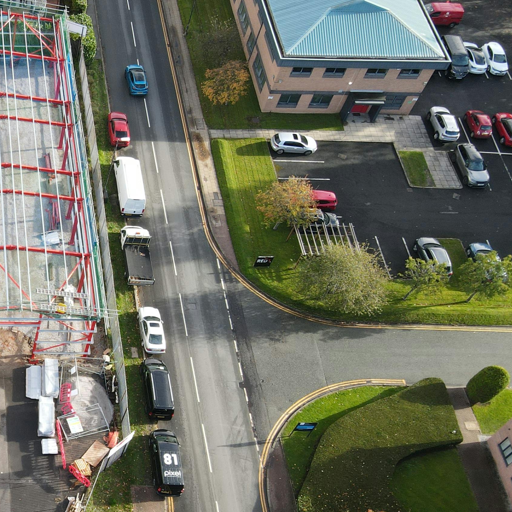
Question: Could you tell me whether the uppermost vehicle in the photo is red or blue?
red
